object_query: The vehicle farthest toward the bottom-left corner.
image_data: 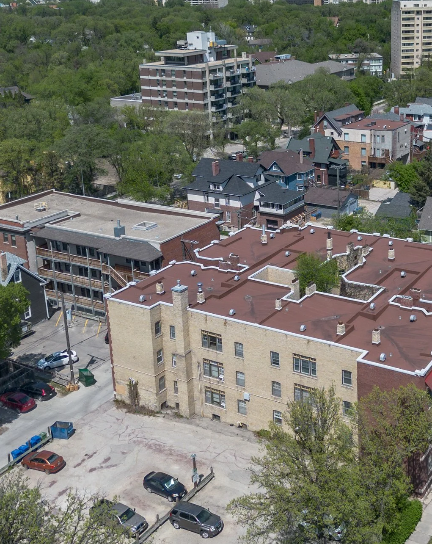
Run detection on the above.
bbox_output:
[18,448,65,475]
